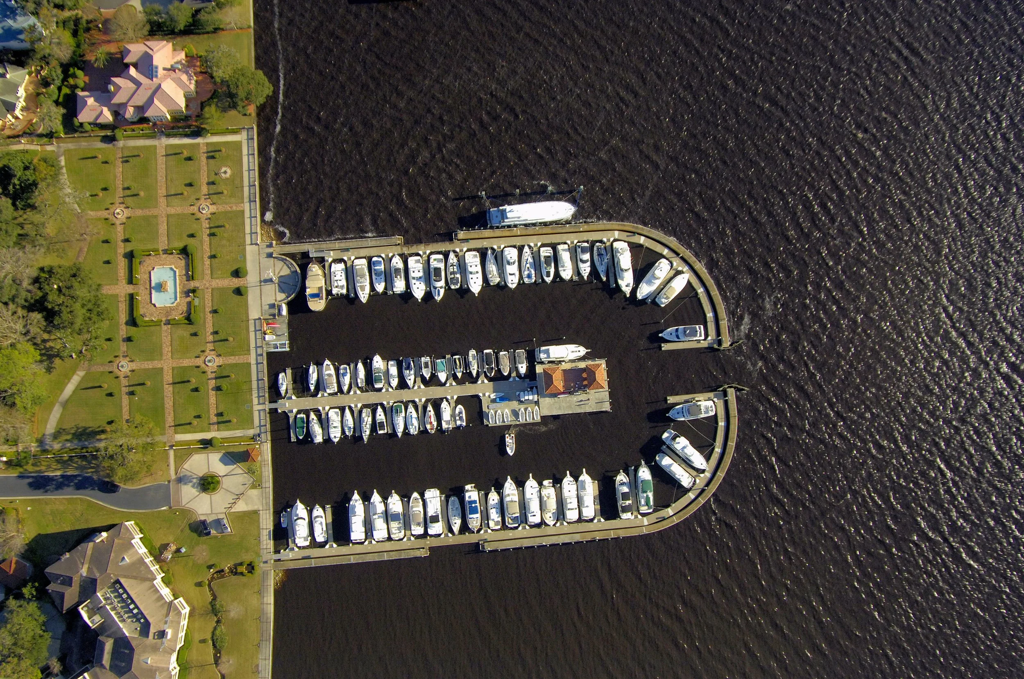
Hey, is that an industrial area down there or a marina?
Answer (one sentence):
This looks like a marina.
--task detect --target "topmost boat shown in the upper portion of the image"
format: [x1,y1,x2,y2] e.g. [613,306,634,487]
[483,201,577,229]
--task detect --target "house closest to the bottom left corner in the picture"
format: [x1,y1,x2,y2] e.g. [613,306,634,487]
[45,521,190,679]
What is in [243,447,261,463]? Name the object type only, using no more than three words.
gazebo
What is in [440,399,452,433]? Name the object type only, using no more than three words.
boat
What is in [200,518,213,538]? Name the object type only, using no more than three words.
vehicle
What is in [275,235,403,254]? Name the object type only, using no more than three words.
pier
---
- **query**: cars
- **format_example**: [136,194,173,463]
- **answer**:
[220,516,232,535]
[200,518,213,538]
